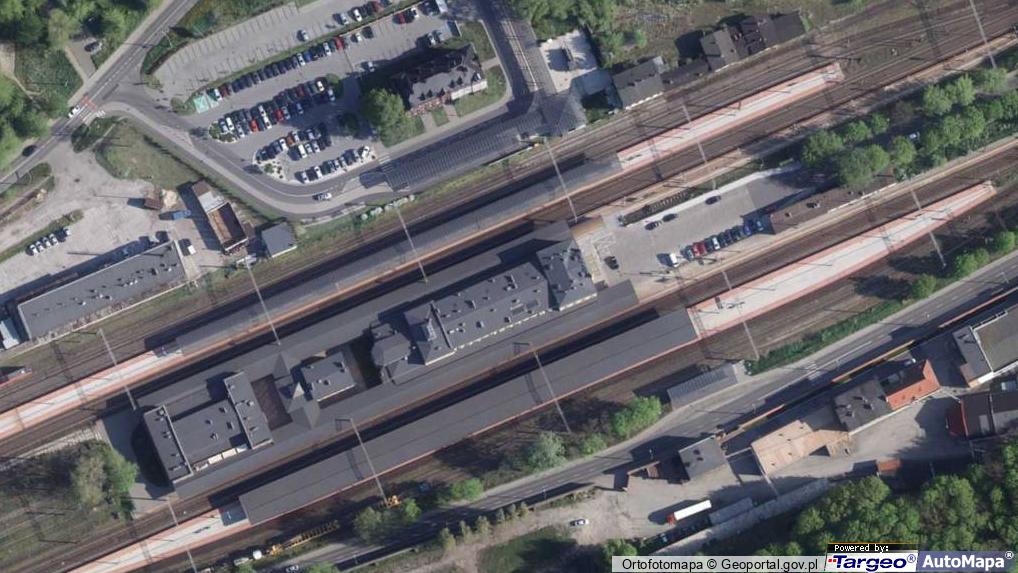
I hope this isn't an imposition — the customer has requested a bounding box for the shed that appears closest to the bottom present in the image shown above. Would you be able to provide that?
[709,498,754,526]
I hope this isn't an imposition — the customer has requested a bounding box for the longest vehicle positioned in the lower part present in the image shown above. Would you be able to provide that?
[665,498,713,524]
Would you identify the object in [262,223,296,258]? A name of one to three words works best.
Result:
shed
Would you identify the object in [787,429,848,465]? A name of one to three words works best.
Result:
building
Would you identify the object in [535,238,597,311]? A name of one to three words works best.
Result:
building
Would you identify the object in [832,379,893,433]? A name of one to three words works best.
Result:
house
